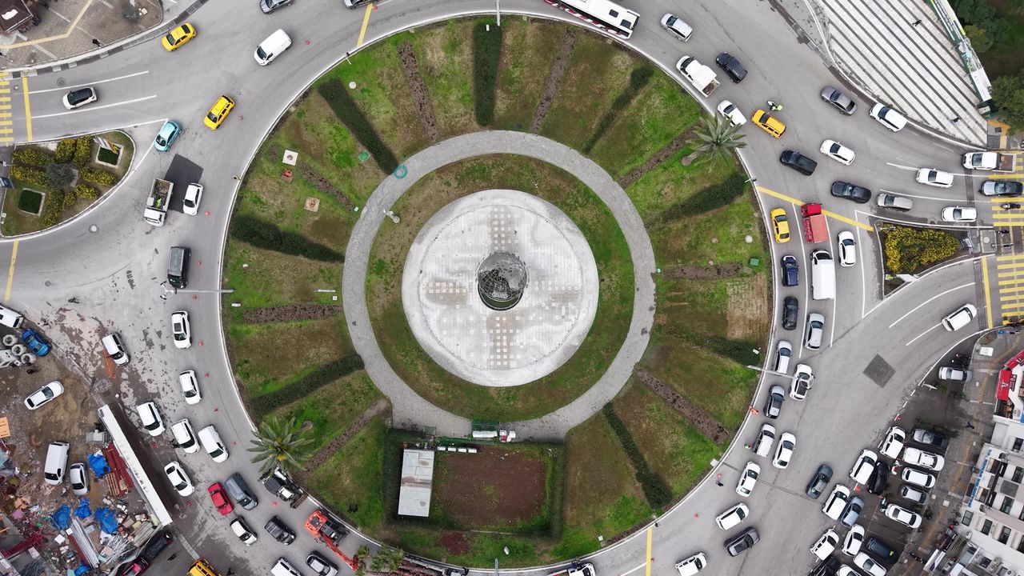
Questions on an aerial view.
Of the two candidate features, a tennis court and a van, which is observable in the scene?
van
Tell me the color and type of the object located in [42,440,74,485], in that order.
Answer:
white van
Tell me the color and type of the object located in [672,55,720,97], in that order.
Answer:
white truck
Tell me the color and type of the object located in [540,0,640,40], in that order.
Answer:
white bus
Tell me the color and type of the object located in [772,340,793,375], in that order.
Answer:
white car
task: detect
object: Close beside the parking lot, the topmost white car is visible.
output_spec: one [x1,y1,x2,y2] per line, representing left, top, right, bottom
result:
[937,303,980,333]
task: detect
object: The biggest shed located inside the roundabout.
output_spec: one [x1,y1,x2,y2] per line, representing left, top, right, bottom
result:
[398,446,436,516]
